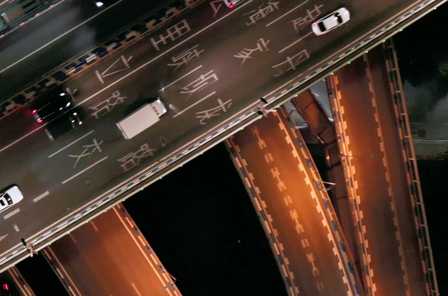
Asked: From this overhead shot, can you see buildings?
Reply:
No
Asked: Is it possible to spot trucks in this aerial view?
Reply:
Yes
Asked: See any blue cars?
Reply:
No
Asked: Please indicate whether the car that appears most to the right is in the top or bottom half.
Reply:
top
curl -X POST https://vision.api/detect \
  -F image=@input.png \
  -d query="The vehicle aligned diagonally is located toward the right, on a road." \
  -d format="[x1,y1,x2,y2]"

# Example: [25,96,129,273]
[307,7,349,38]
